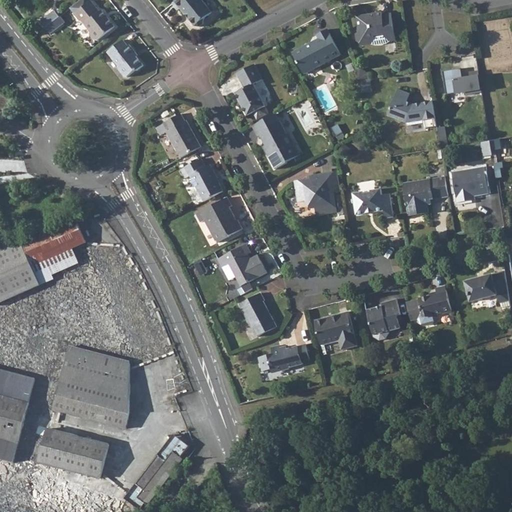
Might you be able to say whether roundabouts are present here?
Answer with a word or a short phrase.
Yes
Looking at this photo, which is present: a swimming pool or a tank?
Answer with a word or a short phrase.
swimming pool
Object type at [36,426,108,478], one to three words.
building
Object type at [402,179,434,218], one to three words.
house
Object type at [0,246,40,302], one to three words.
building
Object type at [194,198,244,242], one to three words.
house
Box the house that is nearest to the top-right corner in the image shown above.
[444,68,481,98]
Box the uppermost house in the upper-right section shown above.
[355,10,396,45]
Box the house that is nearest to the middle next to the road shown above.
[216,243,269,300]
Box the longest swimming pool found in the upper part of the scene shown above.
[314,84,338,116]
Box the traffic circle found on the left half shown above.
[42,100,132,192]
